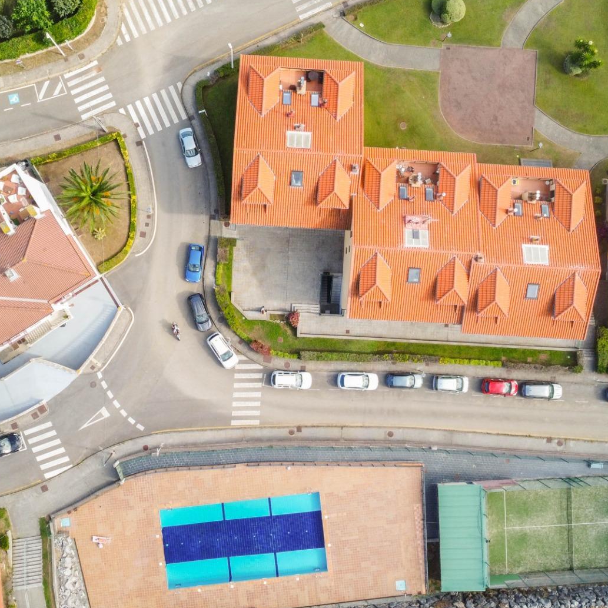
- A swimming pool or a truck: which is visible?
swimming pool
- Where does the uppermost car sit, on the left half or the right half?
left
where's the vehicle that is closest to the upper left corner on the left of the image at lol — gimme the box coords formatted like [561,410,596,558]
[179,127,202,168]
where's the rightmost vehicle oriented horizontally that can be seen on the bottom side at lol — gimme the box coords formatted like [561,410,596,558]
[521,381,562,401]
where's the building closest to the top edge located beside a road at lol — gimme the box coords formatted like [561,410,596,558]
[230,54,364,232]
